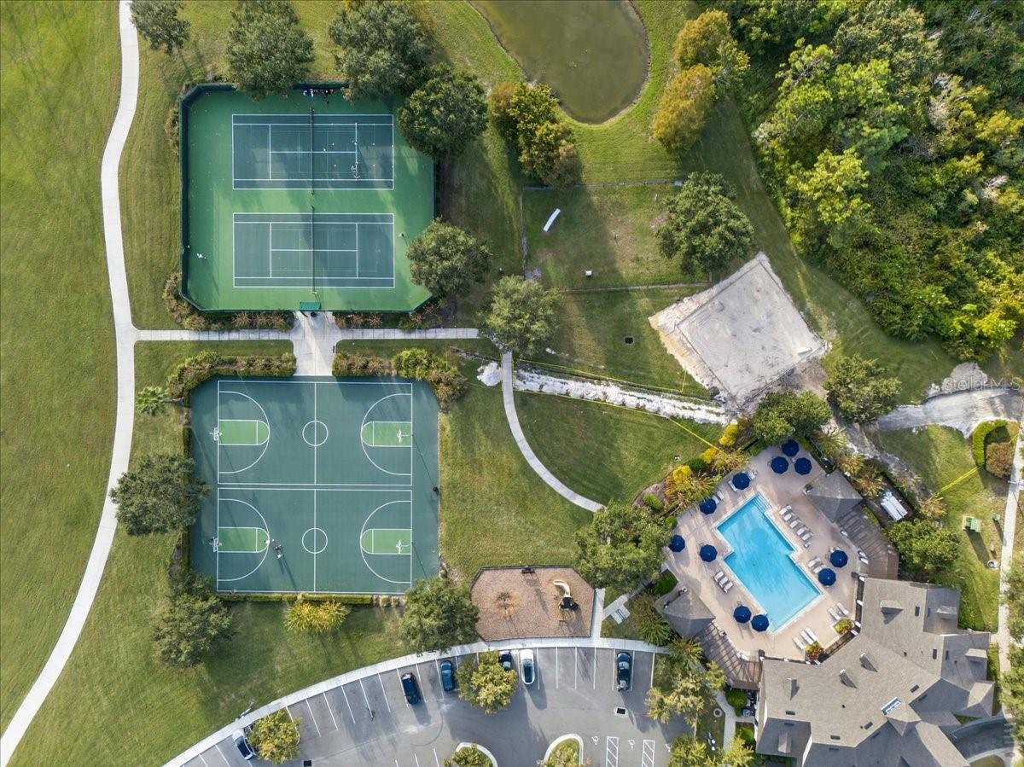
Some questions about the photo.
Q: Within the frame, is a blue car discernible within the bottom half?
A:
Yes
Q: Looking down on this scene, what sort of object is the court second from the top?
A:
tennis court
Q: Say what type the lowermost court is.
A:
basketball court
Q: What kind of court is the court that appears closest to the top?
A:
tennis court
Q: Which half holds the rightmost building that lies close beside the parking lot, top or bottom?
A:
bottom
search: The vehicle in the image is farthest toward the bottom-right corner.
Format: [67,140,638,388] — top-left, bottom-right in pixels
[617,652,633,690]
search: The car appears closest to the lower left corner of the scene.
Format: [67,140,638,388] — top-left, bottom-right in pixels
[232,727,253,761]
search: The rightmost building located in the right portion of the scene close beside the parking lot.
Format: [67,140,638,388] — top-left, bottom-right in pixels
[753,570,994,767]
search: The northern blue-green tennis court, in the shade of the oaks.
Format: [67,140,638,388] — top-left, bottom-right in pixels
[232,114,394,189]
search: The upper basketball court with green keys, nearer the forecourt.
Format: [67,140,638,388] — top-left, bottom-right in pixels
[217,380,413,486]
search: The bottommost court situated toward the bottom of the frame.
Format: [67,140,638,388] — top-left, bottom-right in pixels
[217,488,412,593]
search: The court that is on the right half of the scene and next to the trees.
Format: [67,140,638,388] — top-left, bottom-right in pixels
[650,251,828,408]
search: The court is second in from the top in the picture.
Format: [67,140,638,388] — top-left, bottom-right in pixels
[233,213,395,288]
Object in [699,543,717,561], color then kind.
blue umbrella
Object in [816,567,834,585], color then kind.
blue umbrella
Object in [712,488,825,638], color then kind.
blue swimming pool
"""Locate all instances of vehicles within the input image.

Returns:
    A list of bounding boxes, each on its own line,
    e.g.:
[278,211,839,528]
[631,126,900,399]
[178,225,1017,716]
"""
[499,648,514,680]
[617,652,633,690]
[401,672,420,705]
[520,649,536,684]
[439,659,455,692]
[232,727,253,761]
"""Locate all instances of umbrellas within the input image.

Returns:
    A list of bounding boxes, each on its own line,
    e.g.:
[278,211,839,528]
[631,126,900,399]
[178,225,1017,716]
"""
[732,603,750,621]
[748,612,767,630]
[697,496,715,514]
[699,543,717,561]
[668,535,685,552]
[816,567,834,585]
[829,549,846,566]
[770,456,788,474]
[793,457,811,475]
[731,471,749,489]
